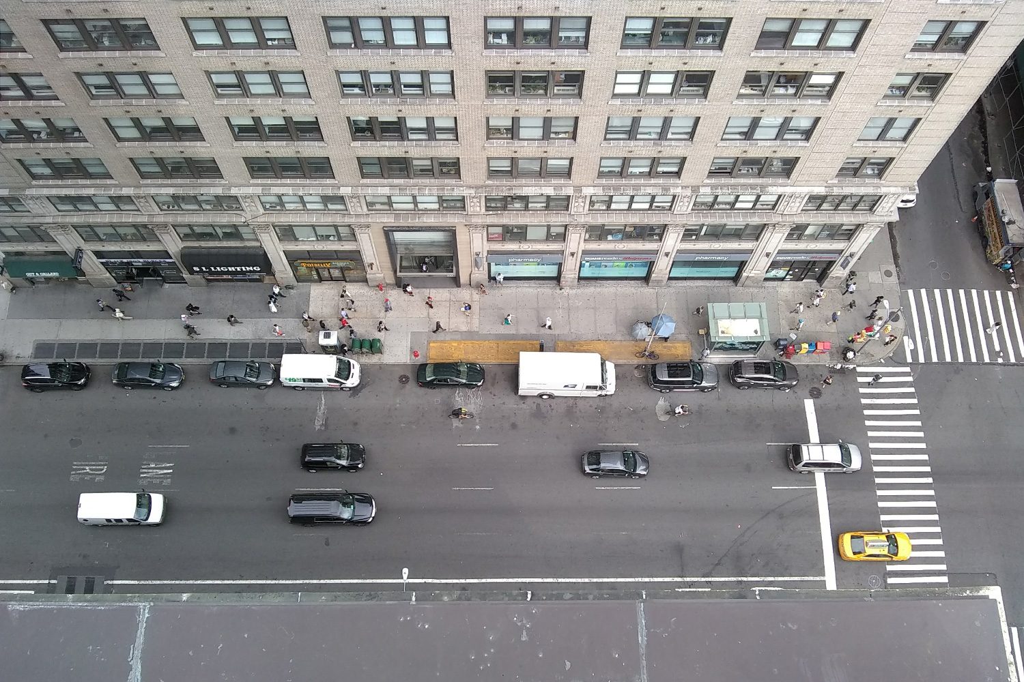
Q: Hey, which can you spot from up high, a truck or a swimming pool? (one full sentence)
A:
Looking from above, you can make out a truck.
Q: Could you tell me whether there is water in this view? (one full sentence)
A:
No, no water is visible.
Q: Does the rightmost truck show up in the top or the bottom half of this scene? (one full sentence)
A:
The rightmost truck sits in the top half of the picture.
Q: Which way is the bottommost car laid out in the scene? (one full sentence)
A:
Seen from above, the bottommost car lies horizontally.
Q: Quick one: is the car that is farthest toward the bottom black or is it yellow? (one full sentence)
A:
The car that is farthest toward the bottom is yellow.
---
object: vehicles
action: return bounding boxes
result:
[900,195,919,208]
[19,358,94,391]
[727,356,799,390]
[277,352,362,390]
[299,438,367,472]
[786,440,861,473]
[581,446,649,478]
[976,184,1024,271]
[287,487,377,525]
[209,357,278,389]
[72,489,169,526]
[835,527,912,562]
[516,354,617,399]
[646,357,719,392]
[417,357,485,388]
[111,357,187,390]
